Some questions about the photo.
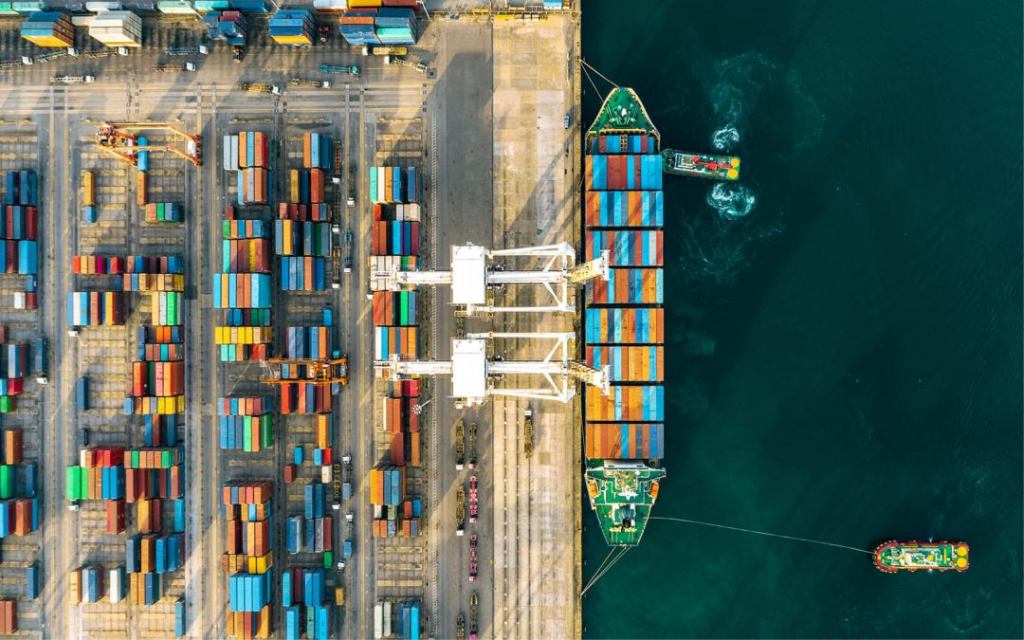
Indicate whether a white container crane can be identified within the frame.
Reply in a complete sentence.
Yes, the photo shows a white container crane.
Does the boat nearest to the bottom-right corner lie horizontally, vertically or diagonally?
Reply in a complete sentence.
The boat nearest to the bottom-right corner has been laid out horizontally relative to the frame.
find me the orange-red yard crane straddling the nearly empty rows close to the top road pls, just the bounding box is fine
[95,123,200,164]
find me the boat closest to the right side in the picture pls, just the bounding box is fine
[871,542,970,574]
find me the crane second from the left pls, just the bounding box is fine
[258,352,349,387]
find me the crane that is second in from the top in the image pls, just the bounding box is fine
[371,243,610,319]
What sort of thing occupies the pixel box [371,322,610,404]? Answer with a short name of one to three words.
container crane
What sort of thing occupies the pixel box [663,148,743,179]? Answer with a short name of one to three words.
boat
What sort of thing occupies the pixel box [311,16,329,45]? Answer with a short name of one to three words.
work vehicle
